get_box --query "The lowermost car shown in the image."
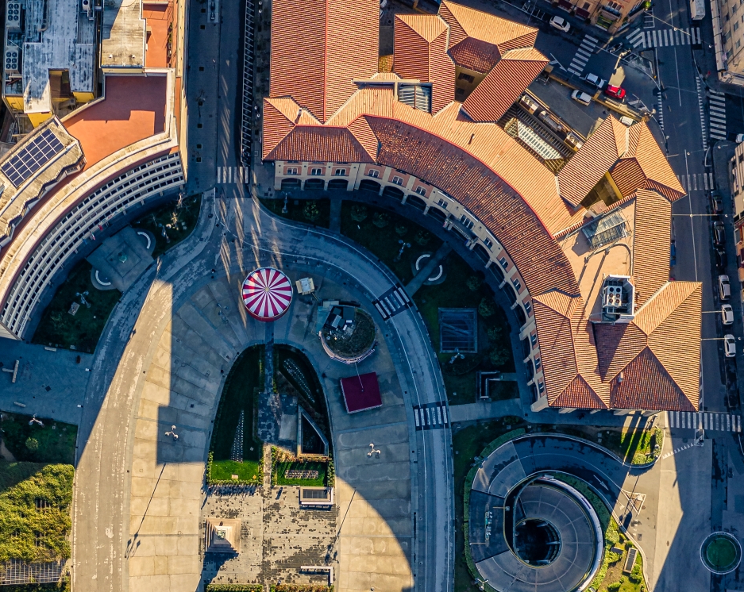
[724,331,738,358]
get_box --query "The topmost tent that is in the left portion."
[241,270,292,322]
